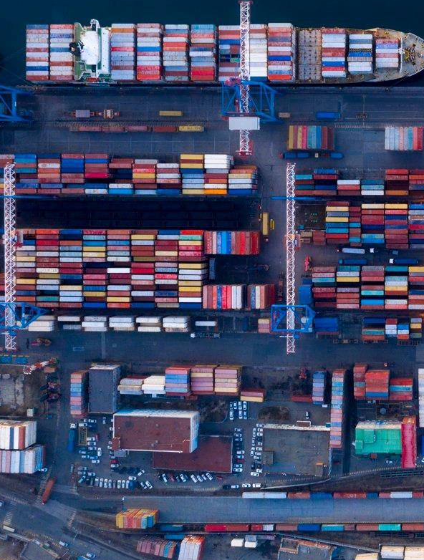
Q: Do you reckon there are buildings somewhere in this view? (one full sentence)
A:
Yes, the picture does show a building.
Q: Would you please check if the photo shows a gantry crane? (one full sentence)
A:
Yes, the frame does contain a gantry crane.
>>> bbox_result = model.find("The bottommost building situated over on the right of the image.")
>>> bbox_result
[278,536,335,560]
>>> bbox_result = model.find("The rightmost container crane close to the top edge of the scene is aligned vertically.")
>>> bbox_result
[220,0,285,154]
